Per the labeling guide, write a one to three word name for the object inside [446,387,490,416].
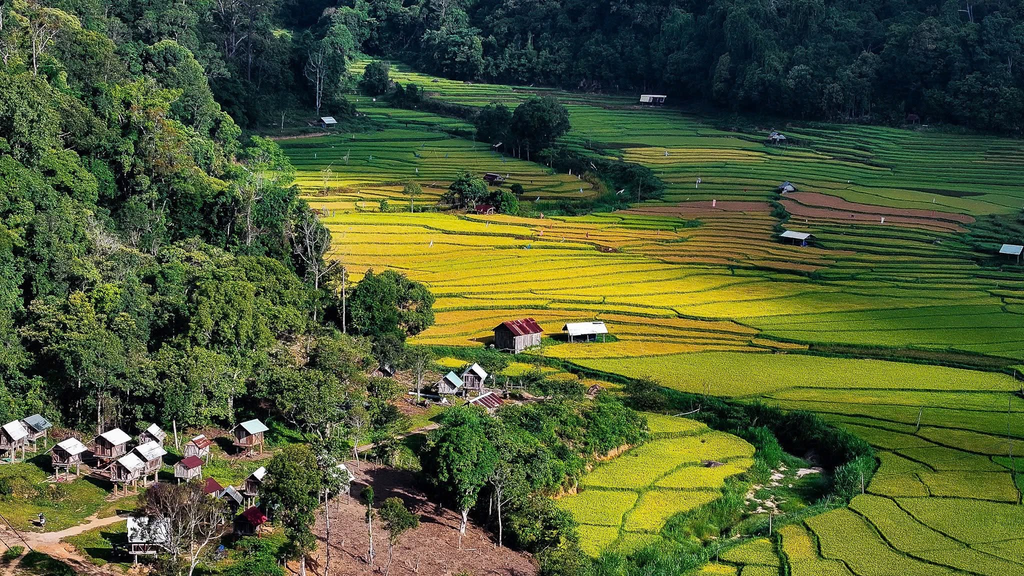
shed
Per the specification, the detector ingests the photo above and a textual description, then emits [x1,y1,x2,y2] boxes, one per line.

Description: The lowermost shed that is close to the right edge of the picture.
[989,240,1020,263]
